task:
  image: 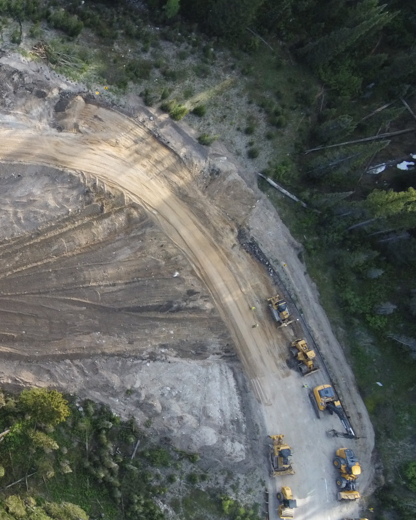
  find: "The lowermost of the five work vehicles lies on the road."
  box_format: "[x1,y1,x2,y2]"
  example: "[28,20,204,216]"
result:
[276,487,298,520]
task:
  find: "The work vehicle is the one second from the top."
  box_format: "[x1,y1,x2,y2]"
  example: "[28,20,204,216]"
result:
[305,377,359,432]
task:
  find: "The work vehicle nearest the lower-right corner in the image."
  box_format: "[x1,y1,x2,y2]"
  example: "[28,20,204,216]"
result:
[331,449,359,501]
